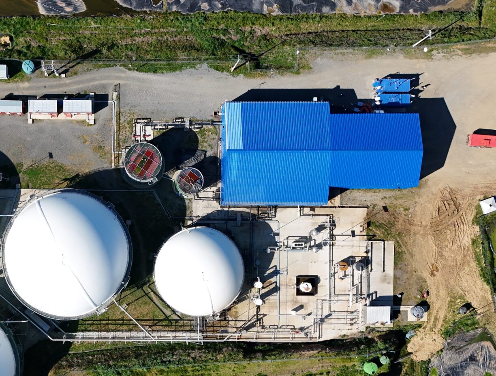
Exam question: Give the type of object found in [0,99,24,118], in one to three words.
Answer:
building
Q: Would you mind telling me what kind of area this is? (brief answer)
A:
industrial area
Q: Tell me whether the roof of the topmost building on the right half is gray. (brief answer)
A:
No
